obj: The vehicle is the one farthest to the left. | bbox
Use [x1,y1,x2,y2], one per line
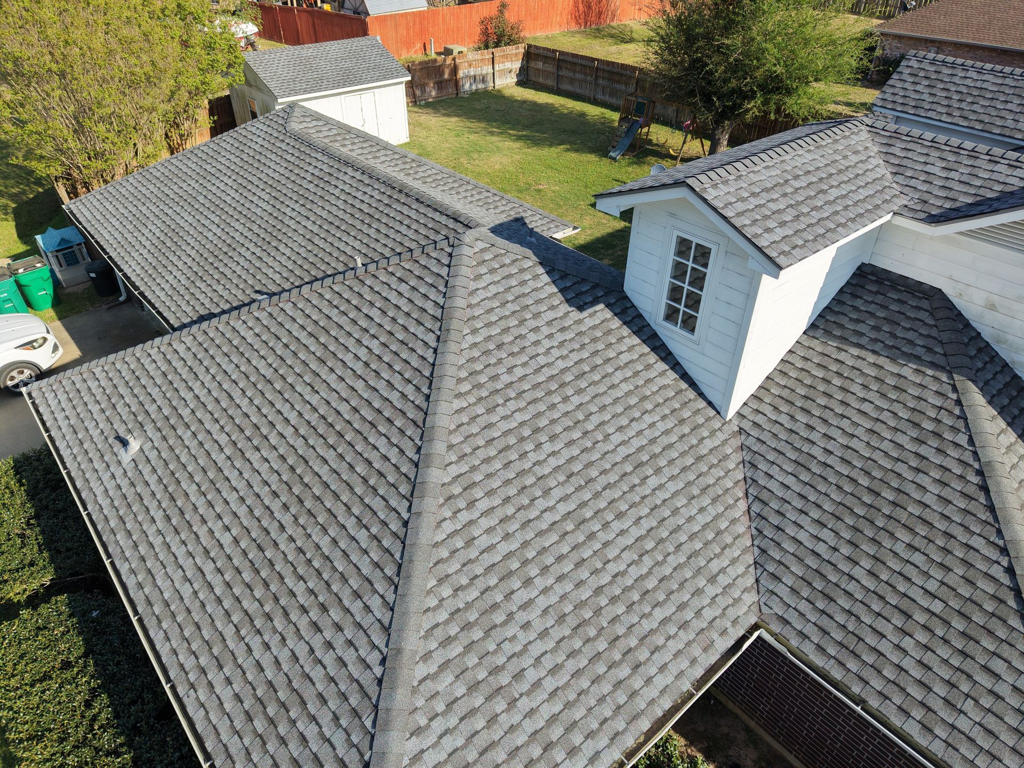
[0,316,61,396]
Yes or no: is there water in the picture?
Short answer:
No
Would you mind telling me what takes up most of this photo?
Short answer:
buildings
